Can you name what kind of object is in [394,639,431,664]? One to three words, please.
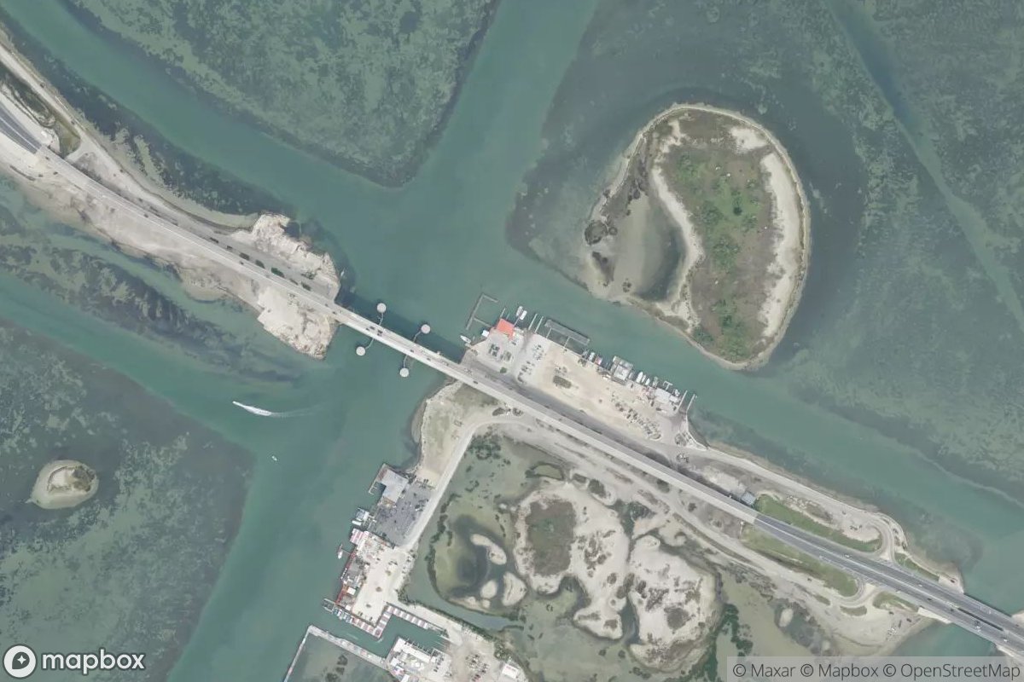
house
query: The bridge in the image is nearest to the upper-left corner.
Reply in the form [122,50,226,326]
[35,145,758,525]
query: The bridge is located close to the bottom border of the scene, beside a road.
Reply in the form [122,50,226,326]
[918,588,1024,663]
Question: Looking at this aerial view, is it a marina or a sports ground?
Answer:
marina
